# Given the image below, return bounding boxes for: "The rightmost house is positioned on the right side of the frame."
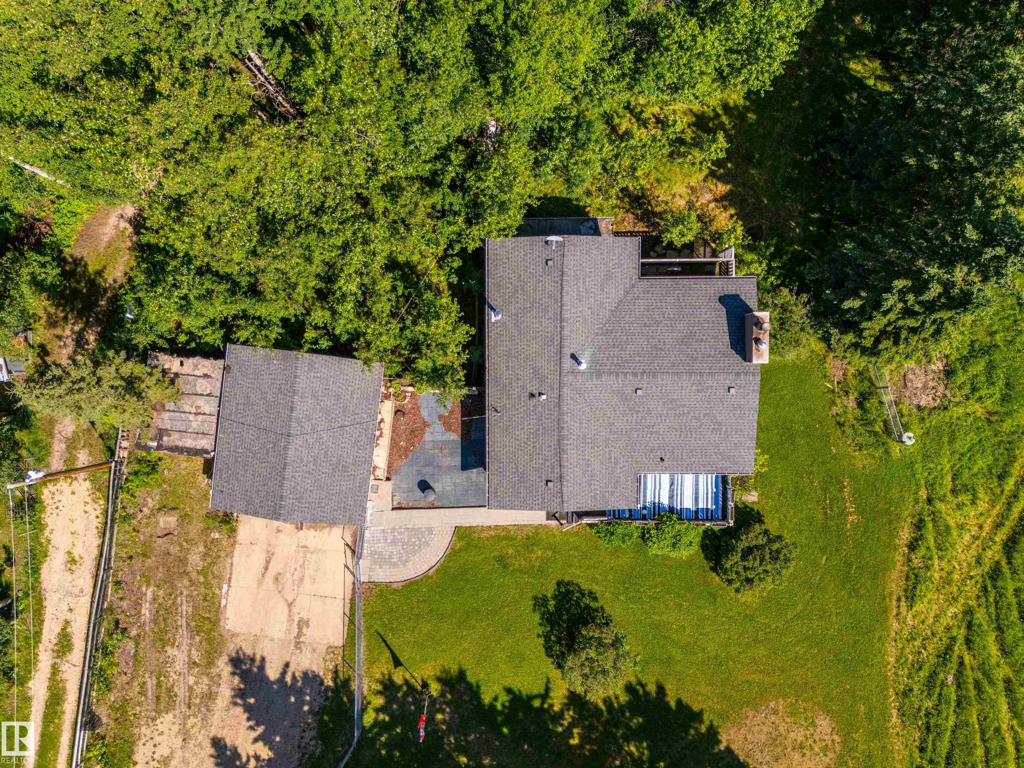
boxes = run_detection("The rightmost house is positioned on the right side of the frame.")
[485,235,772,512]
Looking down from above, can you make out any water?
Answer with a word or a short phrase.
No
